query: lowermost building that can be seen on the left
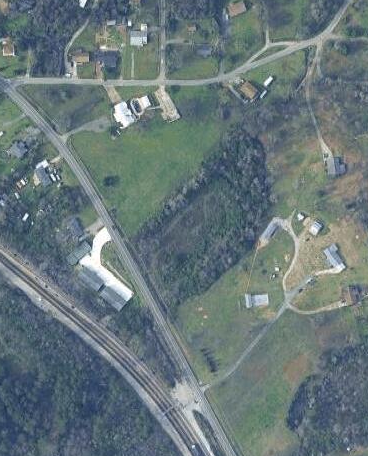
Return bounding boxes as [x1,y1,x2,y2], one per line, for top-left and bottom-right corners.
[99,284,128,312]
